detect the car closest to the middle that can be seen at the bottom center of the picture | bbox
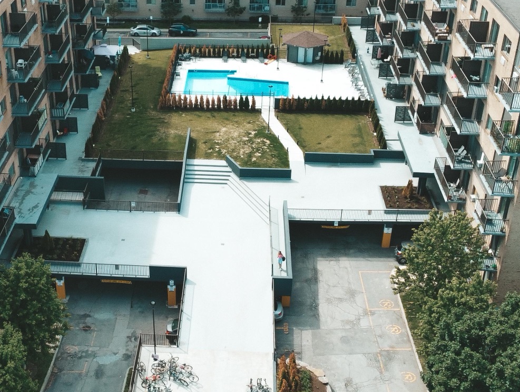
[271,287,283,320]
